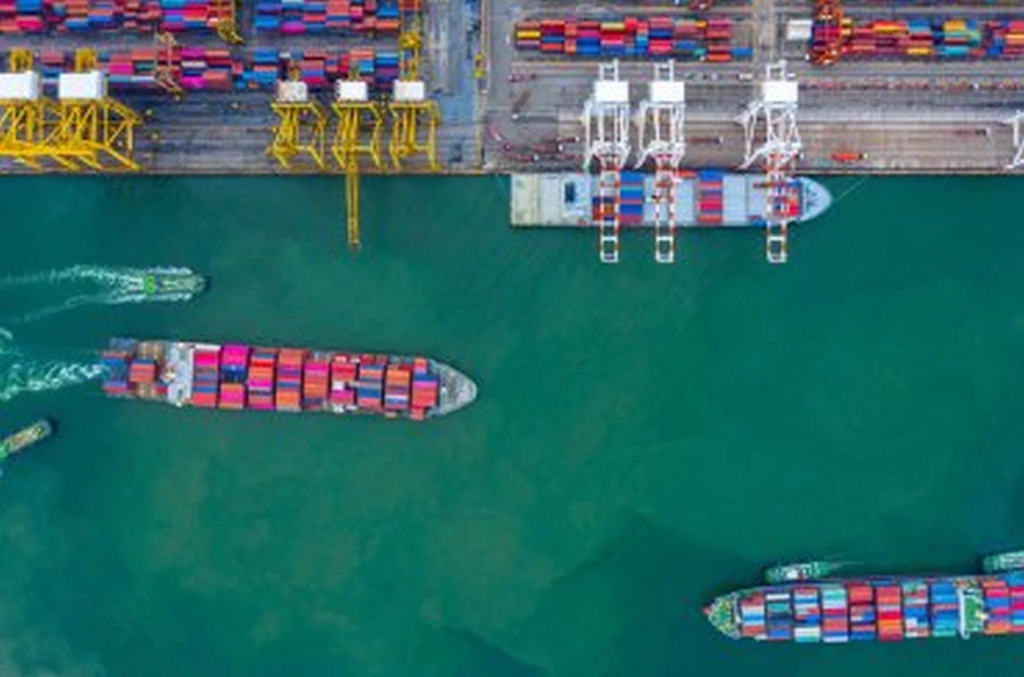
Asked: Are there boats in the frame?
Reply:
Yes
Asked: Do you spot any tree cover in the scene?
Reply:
No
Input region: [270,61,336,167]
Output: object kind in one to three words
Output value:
container crane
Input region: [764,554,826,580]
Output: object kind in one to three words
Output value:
boat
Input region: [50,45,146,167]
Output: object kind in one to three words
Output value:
container crane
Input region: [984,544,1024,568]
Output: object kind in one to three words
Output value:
boat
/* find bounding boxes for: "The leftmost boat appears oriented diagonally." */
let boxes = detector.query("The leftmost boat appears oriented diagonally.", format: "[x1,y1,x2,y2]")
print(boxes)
[0,421,53,464]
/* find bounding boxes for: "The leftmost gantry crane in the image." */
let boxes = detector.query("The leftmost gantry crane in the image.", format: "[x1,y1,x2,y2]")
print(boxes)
[0,45,84,167]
